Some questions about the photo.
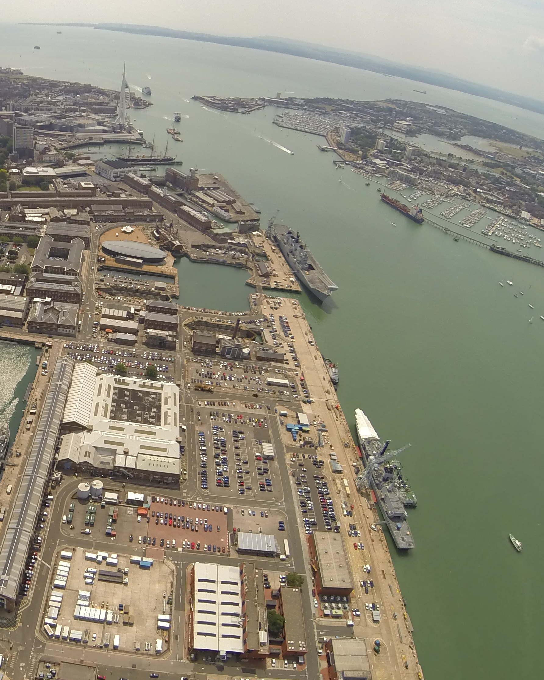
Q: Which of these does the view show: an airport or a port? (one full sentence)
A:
The area seen from above is a port.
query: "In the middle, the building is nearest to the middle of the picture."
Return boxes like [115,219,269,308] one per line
[254,346,284,363]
